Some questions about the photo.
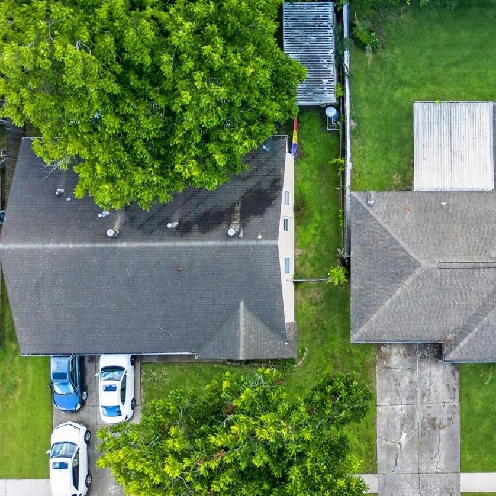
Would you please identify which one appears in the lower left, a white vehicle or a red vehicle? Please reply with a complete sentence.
Looking in the lower left, you will find a white vehicle.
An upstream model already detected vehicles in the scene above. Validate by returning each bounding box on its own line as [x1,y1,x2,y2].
[93,357,136,424]
[46,357,90,413]
[45,421,89,496]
